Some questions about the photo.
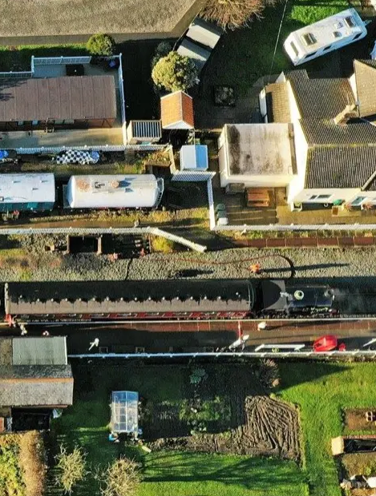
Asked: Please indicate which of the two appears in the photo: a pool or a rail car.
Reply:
rail car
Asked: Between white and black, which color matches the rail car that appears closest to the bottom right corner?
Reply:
black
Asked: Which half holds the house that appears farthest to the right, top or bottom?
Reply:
top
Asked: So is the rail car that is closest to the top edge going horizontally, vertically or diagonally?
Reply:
horizontally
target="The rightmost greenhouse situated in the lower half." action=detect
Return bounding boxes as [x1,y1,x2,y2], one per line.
[108,392,139,433]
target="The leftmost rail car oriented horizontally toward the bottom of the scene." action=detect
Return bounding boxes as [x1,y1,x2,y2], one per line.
[2,279,257,321]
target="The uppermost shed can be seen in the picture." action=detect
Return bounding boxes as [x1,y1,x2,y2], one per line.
[187,19,222,53]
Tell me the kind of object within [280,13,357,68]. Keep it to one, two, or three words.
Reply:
camper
